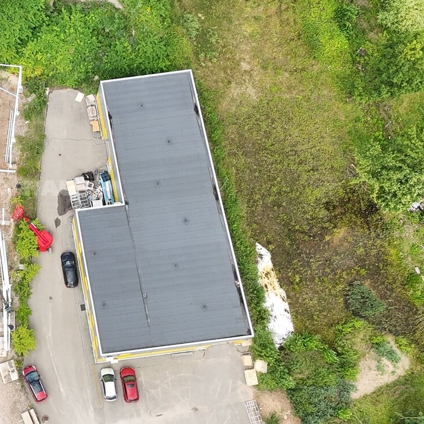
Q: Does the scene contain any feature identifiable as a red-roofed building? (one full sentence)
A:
No, I can see no red-roofed building in this picture.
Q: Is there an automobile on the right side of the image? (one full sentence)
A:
No, on the right side of the image there is no automobile.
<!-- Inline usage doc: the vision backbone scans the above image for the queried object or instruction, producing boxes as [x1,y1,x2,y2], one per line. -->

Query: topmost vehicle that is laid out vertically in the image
[60,252,78,289]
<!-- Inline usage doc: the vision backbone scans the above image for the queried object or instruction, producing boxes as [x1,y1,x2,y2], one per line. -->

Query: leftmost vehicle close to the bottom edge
[23,365,49,405]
